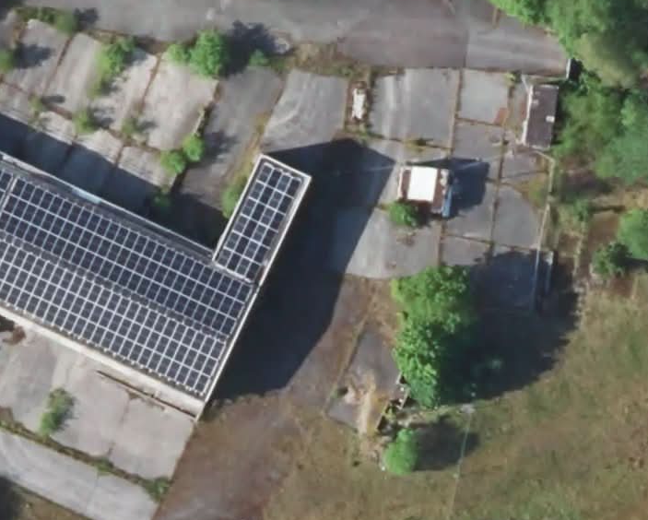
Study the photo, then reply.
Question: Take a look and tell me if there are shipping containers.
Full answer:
No, the frame has no shipping container in it.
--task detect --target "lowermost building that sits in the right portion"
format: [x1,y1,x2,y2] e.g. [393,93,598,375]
[393,167,450,216]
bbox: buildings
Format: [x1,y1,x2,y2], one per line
[0,154,310,420]
[520,84,559,150]
[393,167,450,216]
